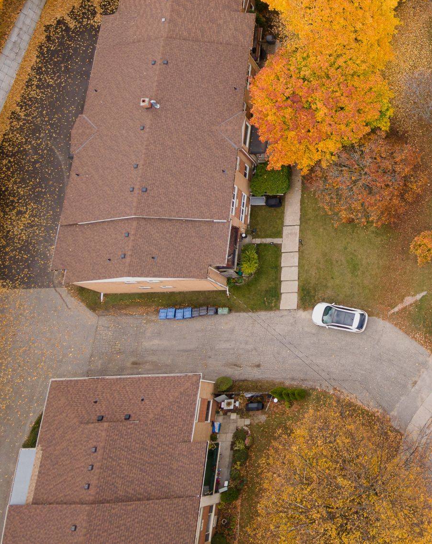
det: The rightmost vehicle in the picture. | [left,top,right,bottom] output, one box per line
[311,300,369,333]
